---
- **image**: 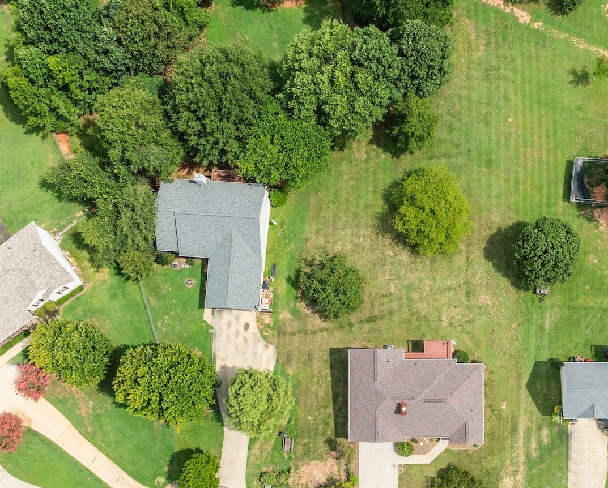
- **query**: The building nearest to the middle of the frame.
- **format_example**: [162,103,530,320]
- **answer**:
[153,173,268,312]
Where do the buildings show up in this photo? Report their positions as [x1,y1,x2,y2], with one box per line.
[153,173,268,312]
[0,221,81,348]
[560,362,608,419]
[348,348,484,446]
